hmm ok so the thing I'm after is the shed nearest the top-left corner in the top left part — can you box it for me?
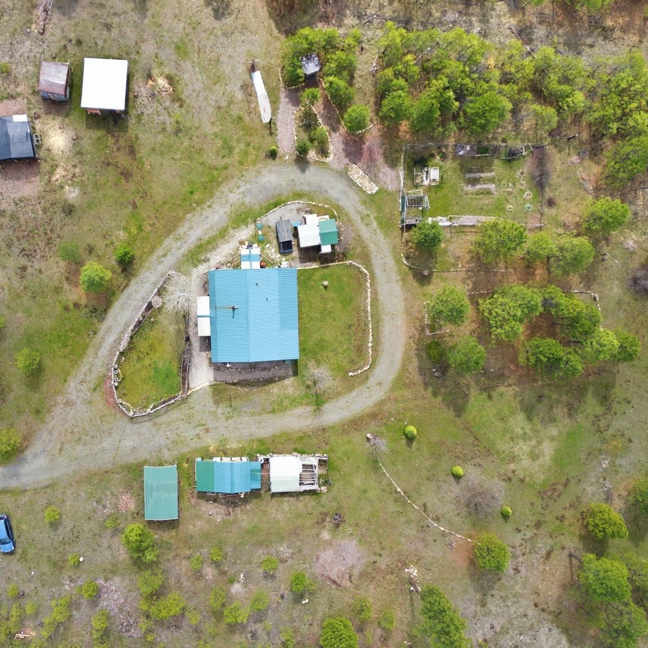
[37,55,77,105]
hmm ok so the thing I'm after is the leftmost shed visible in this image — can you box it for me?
[0,116,39,165]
